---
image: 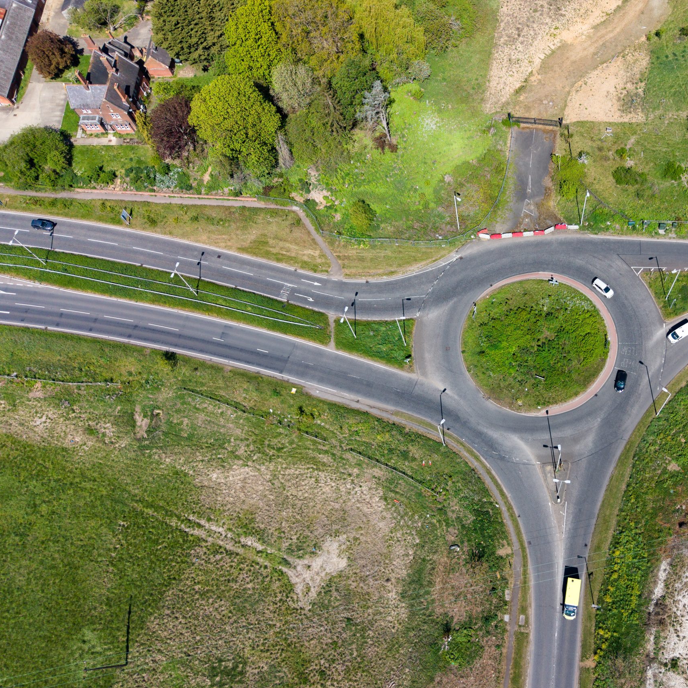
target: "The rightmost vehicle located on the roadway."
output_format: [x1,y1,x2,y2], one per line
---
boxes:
[667,323,688,344]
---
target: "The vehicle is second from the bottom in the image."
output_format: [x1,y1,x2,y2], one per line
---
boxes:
[614,369,627,394]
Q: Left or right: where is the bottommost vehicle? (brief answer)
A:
right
